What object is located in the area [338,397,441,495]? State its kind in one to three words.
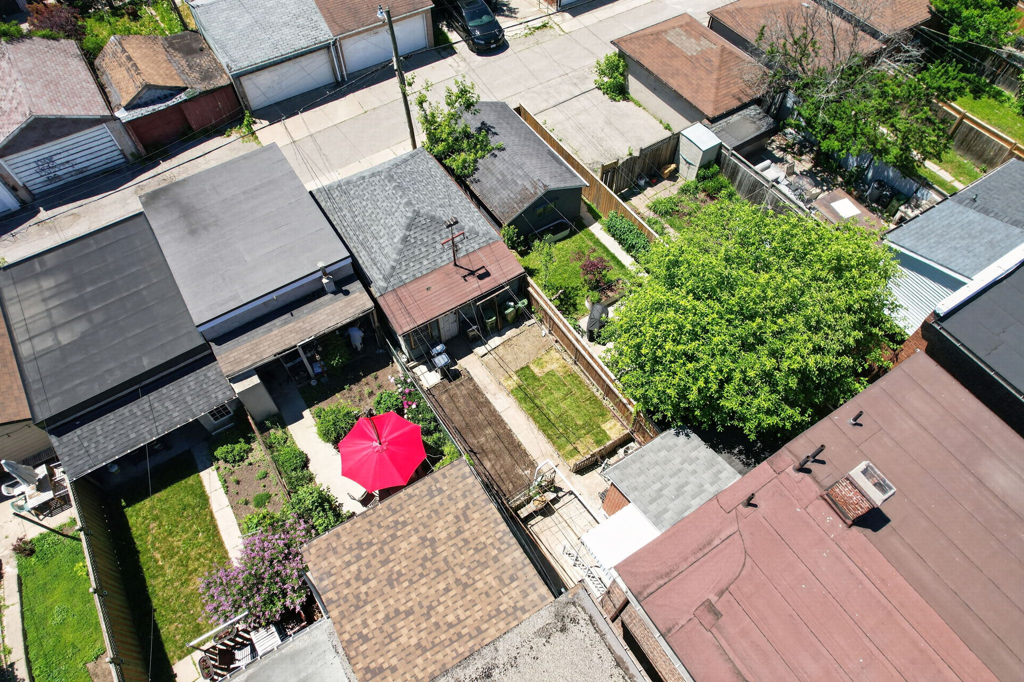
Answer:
umbrella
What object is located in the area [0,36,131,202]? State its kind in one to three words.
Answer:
building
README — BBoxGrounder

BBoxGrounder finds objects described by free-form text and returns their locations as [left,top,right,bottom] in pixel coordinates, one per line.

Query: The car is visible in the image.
[450,0,503,51]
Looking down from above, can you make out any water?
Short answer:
No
